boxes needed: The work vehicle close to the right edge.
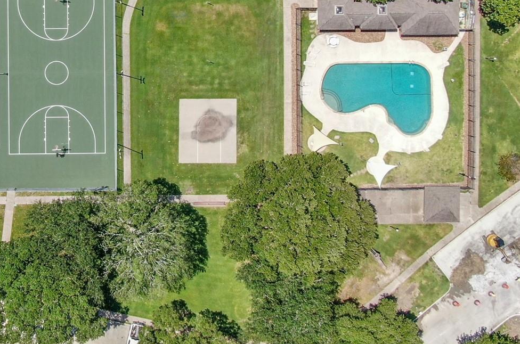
[482,228,509,260]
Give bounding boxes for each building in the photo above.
[418,184,460,223]
[318,0,461,35]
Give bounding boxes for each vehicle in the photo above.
[482,228,509,260]
[129,321,146,344]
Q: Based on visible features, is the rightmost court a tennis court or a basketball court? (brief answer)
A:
basketball court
